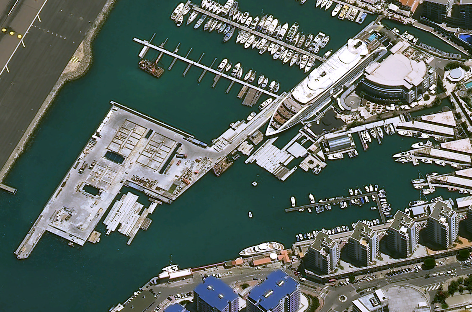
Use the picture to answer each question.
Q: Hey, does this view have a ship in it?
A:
Yes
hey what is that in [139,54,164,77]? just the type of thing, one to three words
ship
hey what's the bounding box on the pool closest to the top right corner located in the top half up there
[454,32,472,46]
